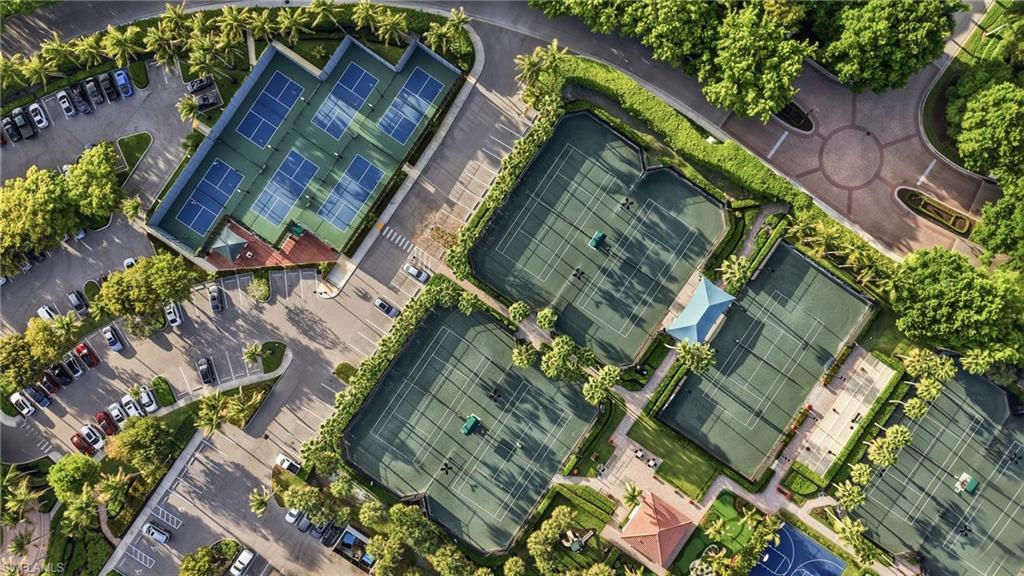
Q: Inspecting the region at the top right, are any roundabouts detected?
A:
Yes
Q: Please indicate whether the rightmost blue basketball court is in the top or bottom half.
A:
bottom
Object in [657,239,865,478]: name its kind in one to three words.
tennis court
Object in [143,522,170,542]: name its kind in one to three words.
car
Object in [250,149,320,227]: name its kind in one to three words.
sports court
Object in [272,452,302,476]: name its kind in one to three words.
truck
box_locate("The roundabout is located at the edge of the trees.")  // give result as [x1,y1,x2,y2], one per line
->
[800,91,910,215]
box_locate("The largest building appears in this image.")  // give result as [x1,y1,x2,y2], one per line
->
[620,491,696,568]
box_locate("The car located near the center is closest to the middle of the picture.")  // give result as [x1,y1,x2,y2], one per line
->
[403,263,429,281]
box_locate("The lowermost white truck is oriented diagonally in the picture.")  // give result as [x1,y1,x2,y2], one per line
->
[228,549,253,576]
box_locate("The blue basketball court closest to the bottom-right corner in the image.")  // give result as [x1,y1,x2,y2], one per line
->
[734,510,848,576]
